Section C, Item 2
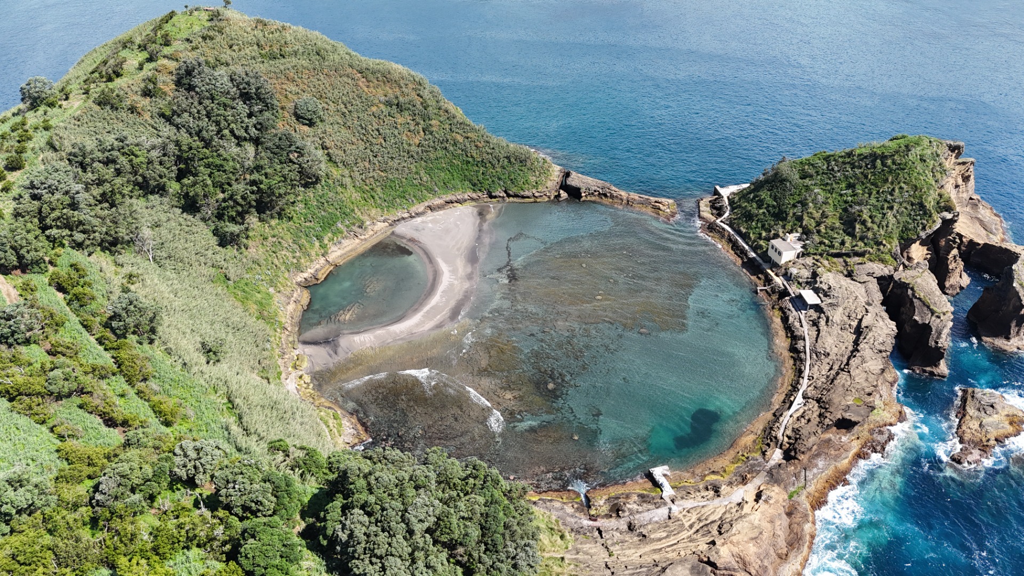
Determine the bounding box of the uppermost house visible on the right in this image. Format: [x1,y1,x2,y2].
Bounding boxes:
[767,231,805,265]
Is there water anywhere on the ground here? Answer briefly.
Yes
